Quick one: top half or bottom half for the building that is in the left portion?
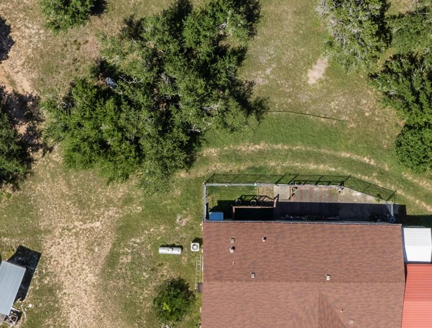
bottom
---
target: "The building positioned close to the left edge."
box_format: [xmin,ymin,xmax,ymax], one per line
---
[0,256,30,315]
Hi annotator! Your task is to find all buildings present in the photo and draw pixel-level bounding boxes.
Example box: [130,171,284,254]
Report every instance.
[404,224,432,262]
[0,256,30,315]
[201,220,406,328]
